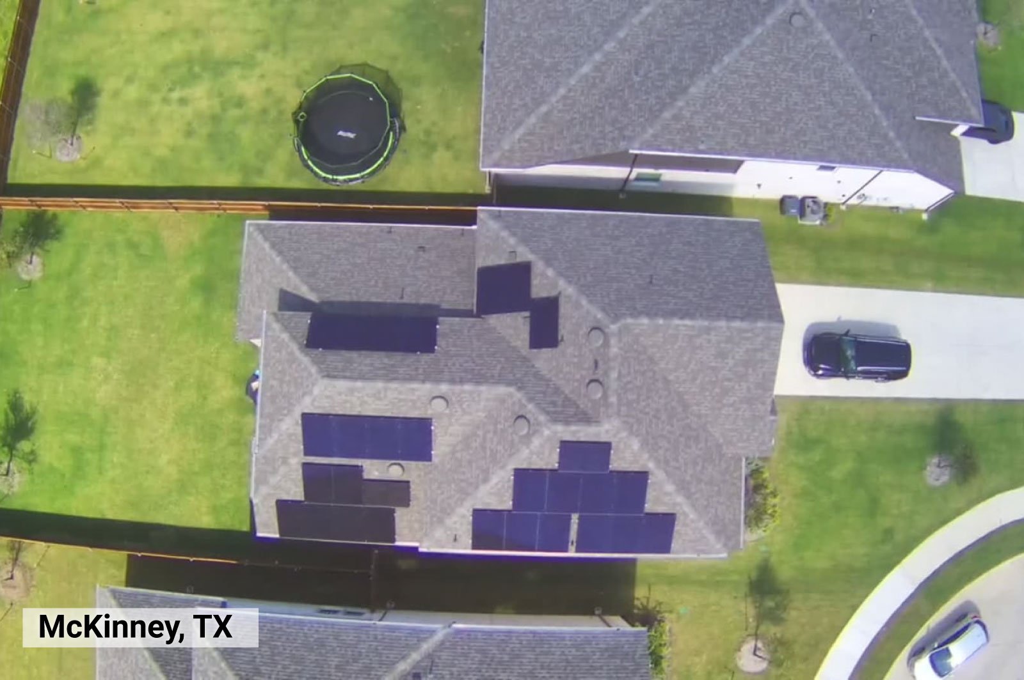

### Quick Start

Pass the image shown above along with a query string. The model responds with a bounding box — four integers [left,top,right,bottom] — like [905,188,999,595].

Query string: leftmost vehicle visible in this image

[803,330,912,381]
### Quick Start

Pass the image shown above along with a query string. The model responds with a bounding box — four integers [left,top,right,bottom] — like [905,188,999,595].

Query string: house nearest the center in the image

[235,204,784,556]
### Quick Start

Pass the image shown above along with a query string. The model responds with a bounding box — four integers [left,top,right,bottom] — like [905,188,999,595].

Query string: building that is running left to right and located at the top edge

[479,0,985,216]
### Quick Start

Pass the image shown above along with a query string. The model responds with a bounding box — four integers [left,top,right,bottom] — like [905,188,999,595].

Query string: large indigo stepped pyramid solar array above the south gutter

[471,441,676,554]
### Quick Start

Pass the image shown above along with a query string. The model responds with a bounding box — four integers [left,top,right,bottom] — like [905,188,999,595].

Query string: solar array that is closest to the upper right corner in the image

[477,261,560,350]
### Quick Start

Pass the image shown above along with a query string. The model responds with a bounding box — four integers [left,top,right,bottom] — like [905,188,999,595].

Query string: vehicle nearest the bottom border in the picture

[910,616,988,680]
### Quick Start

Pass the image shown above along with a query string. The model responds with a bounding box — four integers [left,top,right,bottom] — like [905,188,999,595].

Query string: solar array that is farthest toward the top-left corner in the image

[306,318,439,353]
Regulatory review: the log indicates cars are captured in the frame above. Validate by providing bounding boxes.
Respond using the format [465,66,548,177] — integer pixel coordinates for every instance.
[803,330,912,381]
[910,616,988,680]
[946,103,1016,147]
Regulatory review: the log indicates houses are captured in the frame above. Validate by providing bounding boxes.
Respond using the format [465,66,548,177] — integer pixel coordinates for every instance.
[235,204,784,556]
[94,584,651,680]
[479,0,985,216]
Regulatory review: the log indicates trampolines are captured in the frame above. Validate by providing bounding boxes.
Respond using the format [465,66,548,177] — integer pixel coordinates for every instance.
[293,79,401,183]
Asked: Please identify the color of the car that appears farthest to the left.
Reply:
black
